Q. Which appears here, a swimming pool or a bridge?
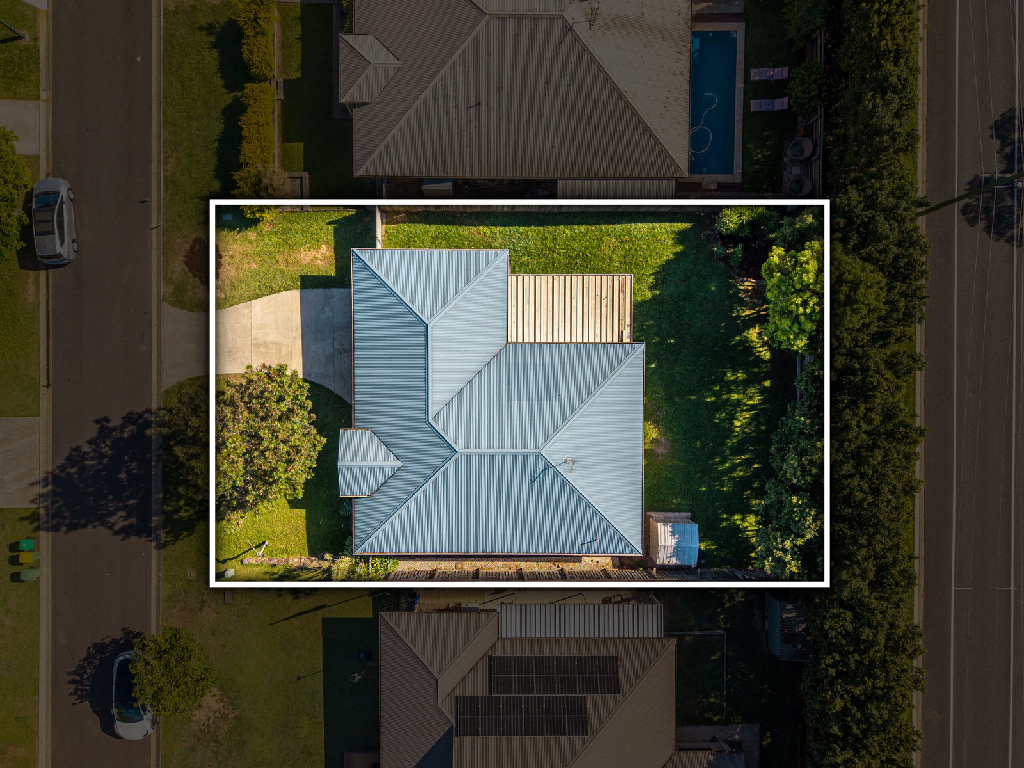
swimming pool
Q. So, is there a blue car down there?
No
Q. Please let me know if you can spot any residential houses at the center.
Yes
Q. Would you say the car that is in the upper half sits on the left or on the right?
left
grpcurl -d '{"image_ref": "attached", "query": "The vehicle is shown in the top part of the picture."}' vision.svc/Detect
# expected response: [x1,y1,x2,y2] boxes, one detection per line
[29,179,81,267]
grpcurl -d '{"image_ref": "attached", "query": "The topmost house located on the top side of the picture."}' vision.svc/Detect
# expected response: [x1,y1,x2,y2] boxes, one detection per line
[336,0,693,180]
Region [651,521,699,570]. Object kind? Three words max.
shed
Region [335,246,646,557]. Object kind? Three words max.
house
